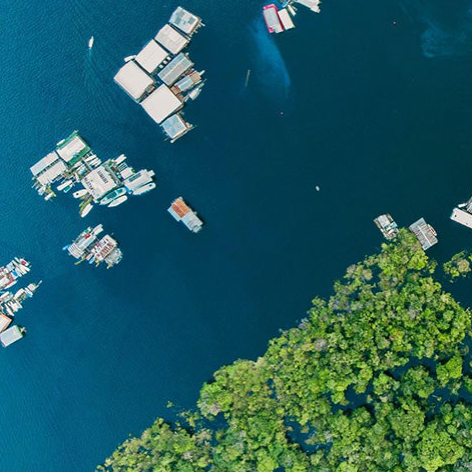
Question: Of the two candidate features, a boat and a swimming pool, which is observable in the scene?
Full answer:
This aerial view contains a boat.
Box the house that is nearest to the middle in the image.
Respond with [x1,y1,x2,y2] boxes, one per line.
[172,197,205,230]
